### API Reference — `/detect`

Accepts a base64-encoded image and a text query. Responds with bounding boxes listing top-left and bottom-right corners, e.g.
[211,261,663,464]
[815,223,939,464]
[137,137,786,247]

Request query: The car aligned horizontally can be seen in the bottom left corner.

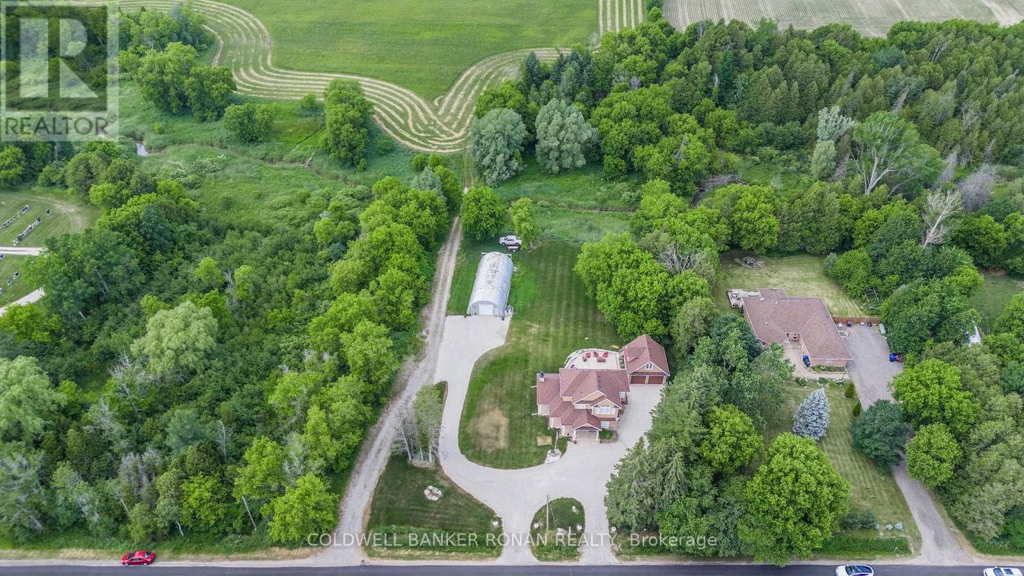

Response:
[117,549,156,568]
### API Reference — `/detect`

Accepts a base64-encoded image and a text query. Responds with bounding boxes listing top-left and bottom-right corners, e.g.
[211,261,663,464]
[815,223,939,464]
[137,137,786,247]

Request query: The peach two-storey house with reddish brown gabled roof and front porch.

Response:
[531,366,630,445]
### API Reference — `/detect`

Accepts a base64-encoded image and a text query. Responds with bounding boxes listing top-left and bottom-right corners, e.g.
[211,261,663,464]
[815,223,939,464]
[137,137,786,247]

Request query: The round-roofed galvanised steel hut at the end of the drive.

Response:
[466,251,514,315]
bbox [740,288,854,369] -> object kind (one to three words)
house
